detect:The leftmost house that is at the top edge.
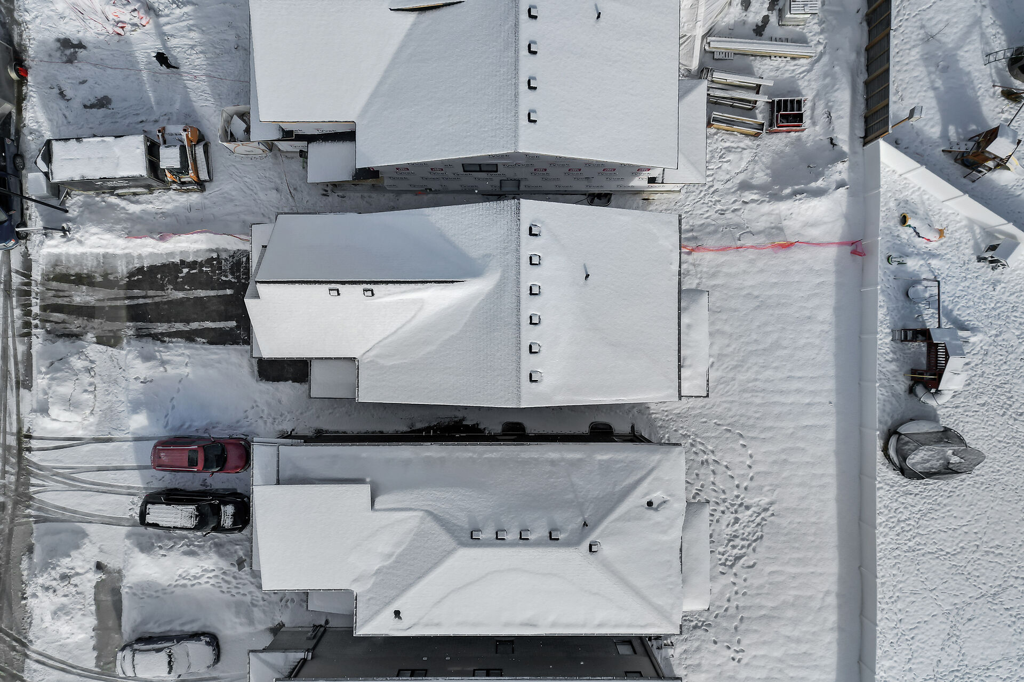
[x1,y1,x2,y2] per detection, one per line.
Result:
[249,0,707,193]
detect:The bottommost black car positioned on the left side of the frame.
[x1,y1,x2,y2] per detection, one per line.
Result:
[139,488,250,538]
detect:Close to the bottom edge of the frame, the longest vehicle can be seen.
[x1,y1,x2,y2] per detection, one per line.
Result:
[119,631,220,678]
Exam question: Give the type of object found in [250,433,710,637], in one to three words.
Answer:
house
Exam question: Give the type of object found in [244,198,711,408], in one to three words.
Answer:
house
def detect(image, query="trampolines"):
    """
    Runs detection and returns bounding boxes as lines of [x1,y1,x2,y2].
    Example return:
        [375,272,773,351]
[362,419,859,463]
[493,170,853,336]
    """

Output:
[886,416,986,483]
